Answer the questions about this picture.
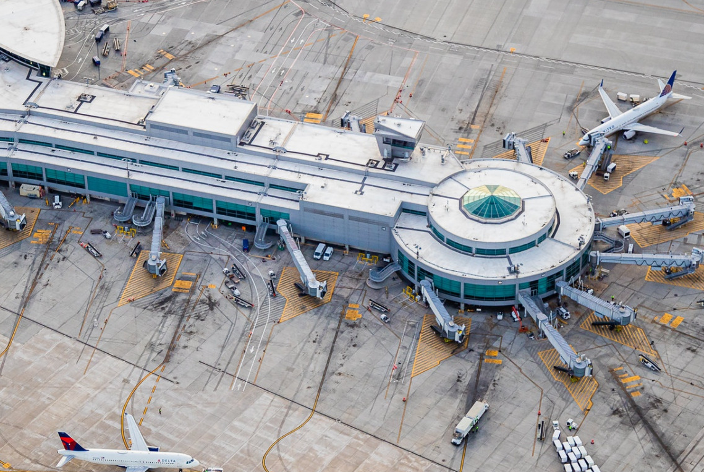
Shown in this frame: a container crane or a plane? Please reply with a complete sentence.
Looking from above, you can make out a plane.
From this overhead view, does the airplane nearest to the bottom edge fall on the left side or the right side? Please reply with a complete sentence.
The airplane nearest to the bottom edge is on the left side of the image.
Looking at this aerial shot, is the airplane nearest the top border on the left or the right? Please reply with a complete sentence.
You can find the airplane nearest the top border on the right side of the picture.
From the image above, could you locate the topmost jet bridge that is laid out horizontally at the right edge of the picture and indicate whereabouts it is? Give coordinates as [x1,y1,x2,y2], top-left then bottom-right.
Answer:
[595,201,697,244]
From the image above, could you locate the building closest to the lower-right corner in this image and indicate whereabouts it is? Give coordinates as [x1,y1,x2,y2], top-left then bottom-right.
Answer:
[393,161,596,313]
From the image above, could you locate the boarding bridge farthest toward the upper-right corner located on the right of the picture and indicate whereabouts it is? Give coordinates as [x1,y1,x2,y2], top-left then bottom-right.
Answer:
[575,136,612,195]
